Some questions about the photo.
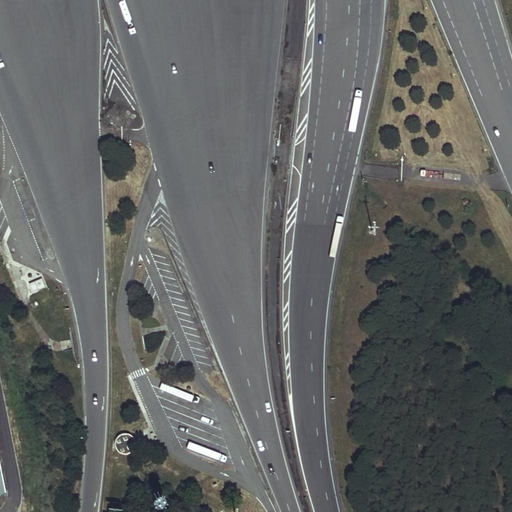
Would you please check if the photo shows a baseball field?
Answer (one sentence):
No, there is no baseball field in the image.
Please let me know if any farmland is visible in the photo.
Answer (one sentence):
No, farmland can't be seen anywhere here.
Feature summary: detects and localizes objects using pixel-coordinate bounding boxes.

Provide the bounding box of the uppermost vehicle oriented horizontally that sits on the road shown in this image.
[420,168,462,182]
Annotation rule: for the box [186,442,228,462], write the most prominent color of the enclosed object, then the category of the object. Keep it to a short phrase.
white vehicle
